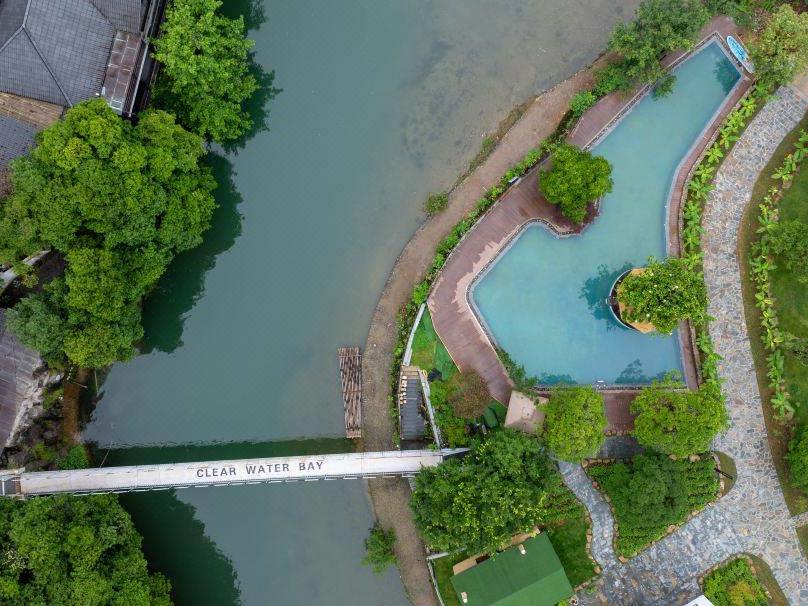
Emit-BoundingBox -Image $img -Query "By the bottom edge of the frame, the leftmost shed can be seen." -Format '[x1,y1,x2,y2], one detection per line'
[447,518,574,606]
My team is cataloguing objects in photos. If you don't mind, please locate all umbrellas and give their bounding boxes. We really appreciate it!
[505,391,548,432]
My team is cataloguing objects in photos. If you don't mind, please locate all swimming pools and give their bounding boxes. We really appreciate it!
[467,33,749,392]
